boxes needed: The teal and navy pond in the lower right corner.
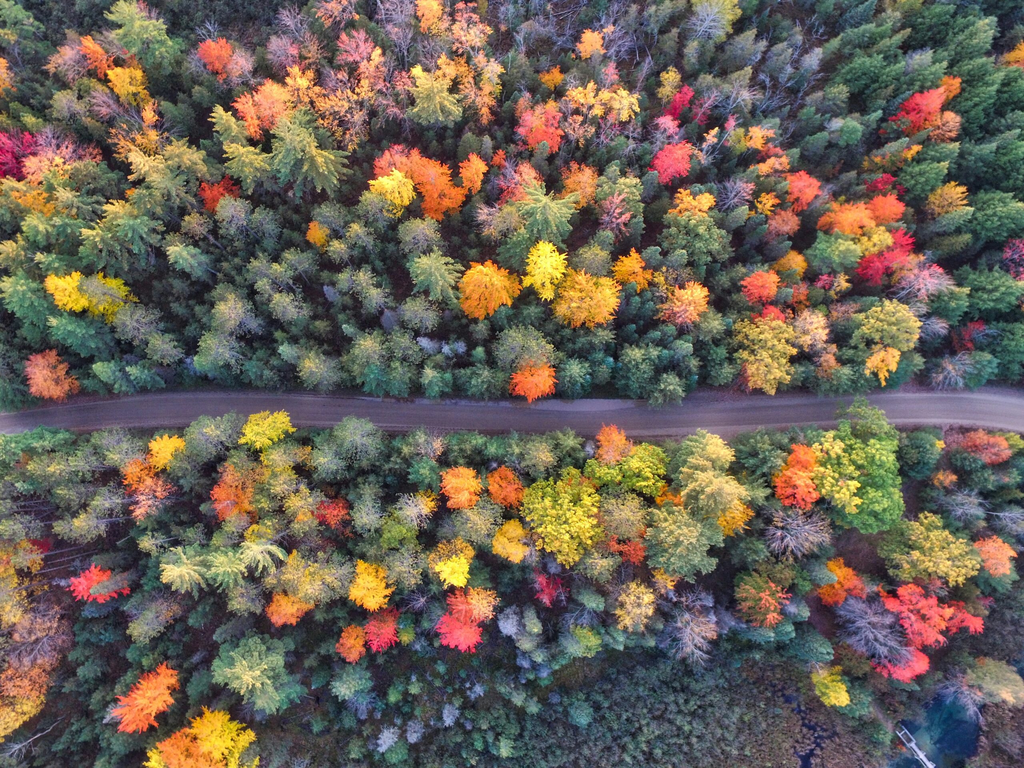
[884,691,986,768]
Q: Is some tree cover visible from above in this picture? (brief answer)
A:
Yes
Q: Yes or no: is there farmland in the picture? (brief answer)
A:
No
